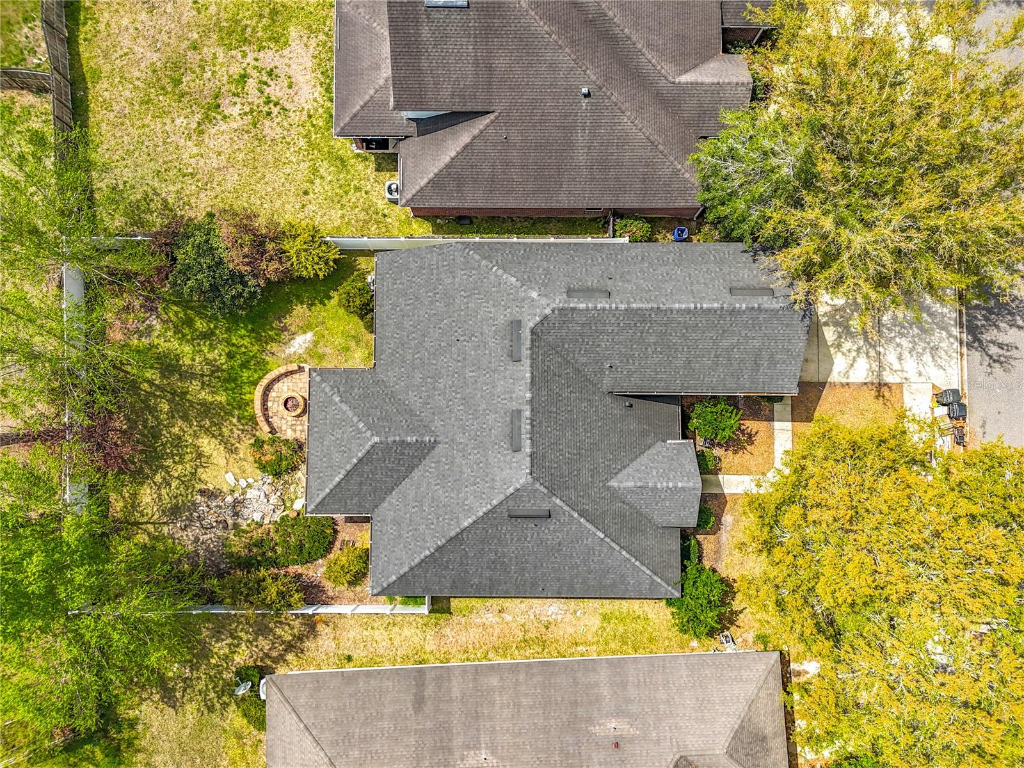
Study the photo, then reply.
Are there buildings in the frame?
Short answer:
Yes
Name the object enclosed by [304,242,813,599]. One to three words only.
house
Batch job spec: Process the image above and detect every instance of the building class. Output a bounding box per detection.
[264,646,787,768]
[304,242,813,599]
[331,0,787,220]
